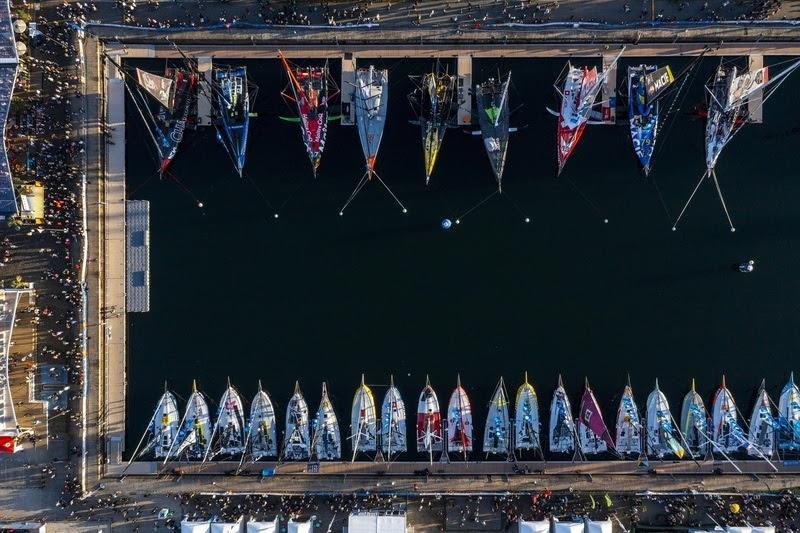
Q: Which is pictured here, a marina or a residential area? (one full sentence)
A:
The area seen from above is a marina.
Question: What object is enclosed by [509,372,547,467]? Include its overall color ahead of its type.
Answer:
blue boat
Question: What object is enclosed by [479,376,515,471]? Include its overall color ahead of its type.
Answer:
blue boat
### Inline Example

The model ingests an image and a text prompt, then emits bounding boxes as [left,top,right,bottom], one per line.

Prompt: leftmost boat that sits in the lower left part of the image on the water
[121,380,182,477]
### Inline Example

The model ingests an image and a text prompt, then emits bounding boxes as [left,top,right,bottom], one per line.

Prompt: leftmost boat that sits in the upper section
[101,47,205,203]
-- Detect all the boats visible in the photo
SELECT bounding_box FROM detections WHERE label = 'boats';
[306,382,345,475]
[101,47,205,203]
[677,379,744,477]
[341,63,404,212]
[275,381,314,475]
[170,36,274,211]
[278,47,346,179]
[611,375,662,468]
[412,374,444,470]
[733,261,755,272]
[345,374,383,467]
[196,376,248,477]
[479,376,515,471]
[236,380,284,479]
[644,378,704,471]
[509,372,547,467]
[446,374,473,474]
[159,381,216,478]
[622,43,712,202]
[404,54,466,185]
[773,372,800,461]
[121,380,182,477]
[376,374,410,474]
[708,376,779,477]
[460,66,527,220]
[577,377,625,463]
[747,379,800,463]
[673,61,800,228]
[542,375,586,467]
[547,43,626,220]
